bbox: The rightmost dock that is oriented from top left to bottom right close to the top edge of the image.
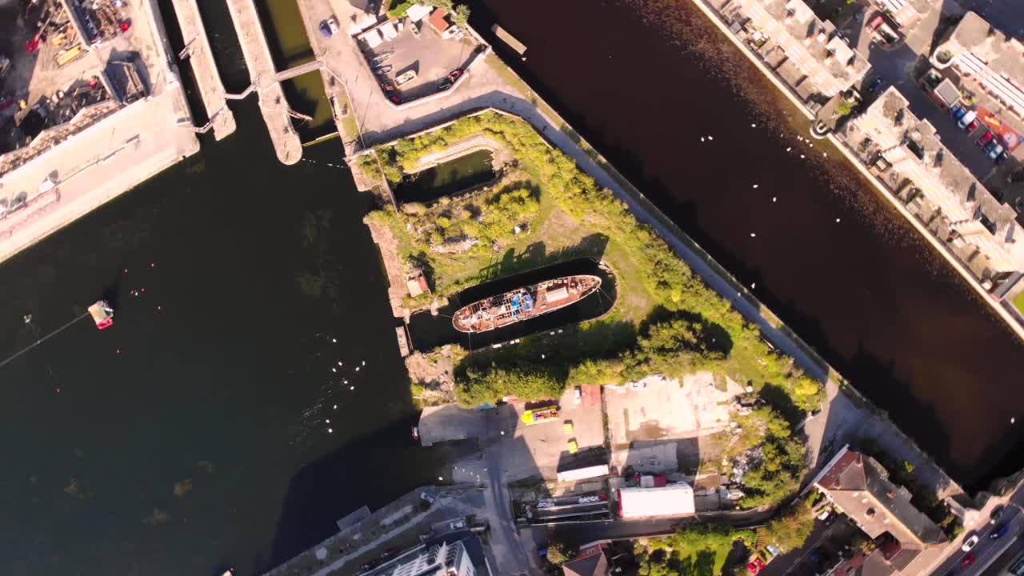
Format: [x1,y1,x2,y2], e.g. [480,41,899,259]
[493,27,526,57]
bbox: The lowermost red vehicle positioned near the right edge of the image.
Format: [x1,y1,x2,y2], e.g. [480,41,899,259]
[961,552,977,567]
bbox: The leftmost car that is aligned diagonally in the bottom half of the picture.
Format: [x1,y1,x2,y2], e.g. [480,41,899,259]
[420,492,435,505]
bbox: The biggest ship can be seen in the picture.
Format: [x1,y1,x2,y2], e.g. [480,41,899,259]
[452,279,605,330]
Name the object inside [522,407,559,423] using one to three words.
vehicle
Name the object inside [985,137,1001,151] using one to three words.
car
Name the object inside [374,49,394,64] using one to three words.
boat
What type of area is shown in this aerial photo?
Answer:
port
